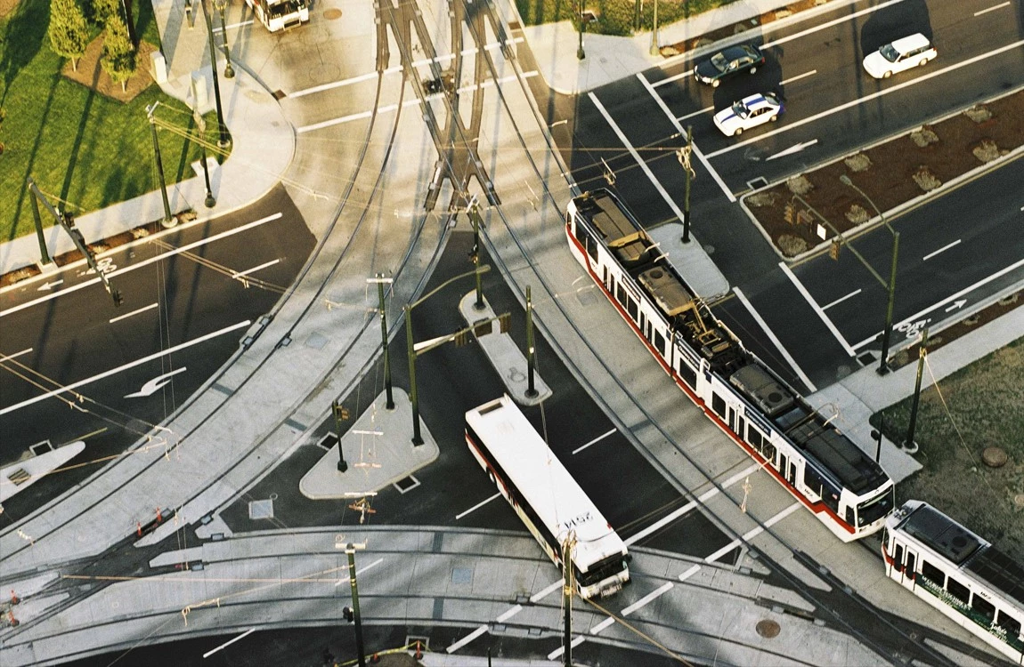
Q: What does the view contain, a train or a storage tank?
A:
train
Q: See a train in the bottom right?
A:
Yes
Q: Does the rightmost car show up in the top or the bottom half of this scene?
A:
top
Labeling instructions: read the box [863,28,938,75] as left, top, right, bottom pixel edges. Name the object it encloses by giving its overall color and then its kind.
white car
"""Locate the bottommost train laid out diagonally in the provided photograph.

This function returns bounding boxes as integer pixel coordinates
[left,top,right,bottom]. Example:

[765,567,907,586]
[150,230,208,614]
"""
[879,502,1024,659]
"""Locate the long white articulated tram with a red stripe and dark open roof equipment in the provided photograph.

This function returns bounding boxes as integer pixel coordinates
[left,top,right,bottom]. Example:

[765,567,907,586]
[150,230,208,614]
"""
[565,196,900,544]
